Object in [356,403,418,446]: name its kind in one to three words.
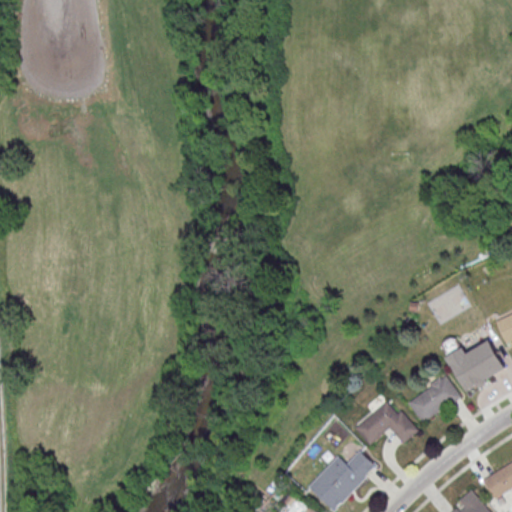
house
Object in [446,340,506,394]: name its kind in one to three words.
house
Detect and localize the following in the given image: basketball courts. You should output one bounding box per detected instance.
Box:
[428,284,472,325]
